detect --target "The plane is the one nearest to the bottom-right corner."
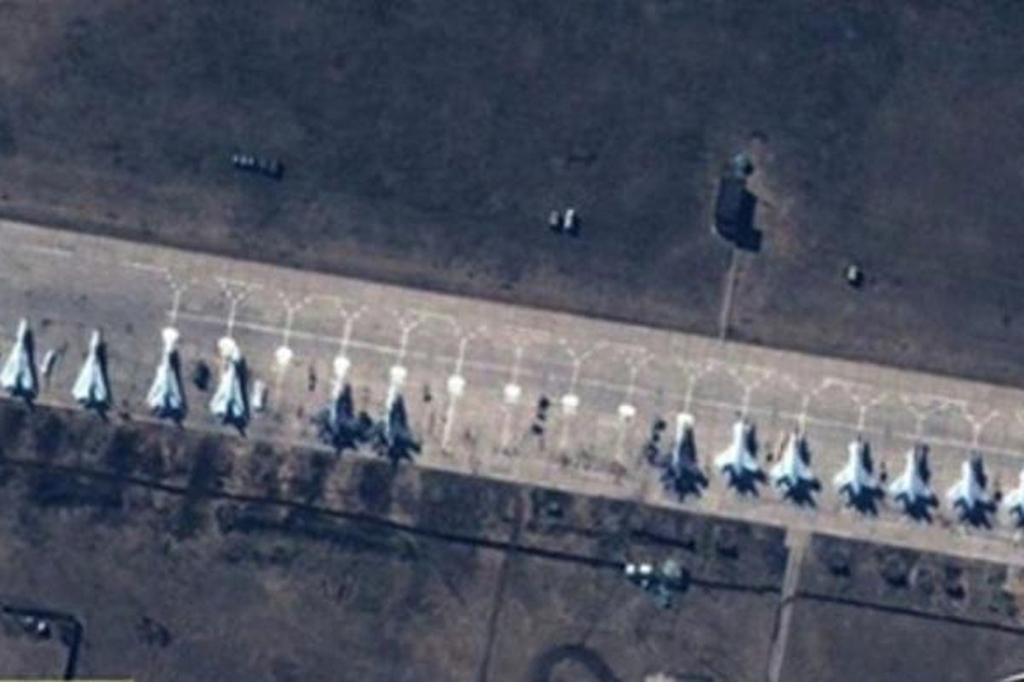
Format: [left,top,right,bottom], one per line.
[1004,484,1024,525]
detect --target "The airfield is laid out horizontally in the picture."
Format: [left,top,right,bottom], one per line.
[0,219,1024,565]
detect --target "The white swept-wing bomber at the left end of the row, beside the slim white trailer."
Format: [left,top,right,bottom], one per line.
[2,317,33,387]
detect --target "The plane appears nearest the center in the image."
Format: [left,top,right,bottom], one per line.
[371,392,414,457]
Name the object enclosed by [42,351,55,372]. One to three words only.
vehicle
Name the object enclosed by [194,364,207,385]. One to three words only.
vehicle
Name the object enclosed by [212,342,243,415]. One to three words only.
airplane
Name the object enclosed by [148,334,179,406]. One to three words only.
airplane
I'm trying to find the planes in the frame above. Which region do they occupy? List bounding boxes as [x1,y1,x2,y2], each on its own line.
[148,334,179,406]
[1004,484,1024,525]
[371,392,414,457]
[659,425,703,491]
[319,380,362,448]
[2,317,33,387]
[889,442,933,510]
[74,330,105,399]
[833,439,876,504]
[714,421,757,486]
[947,448,991,516]
[769,428,813,496]
[212,342,243,415]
